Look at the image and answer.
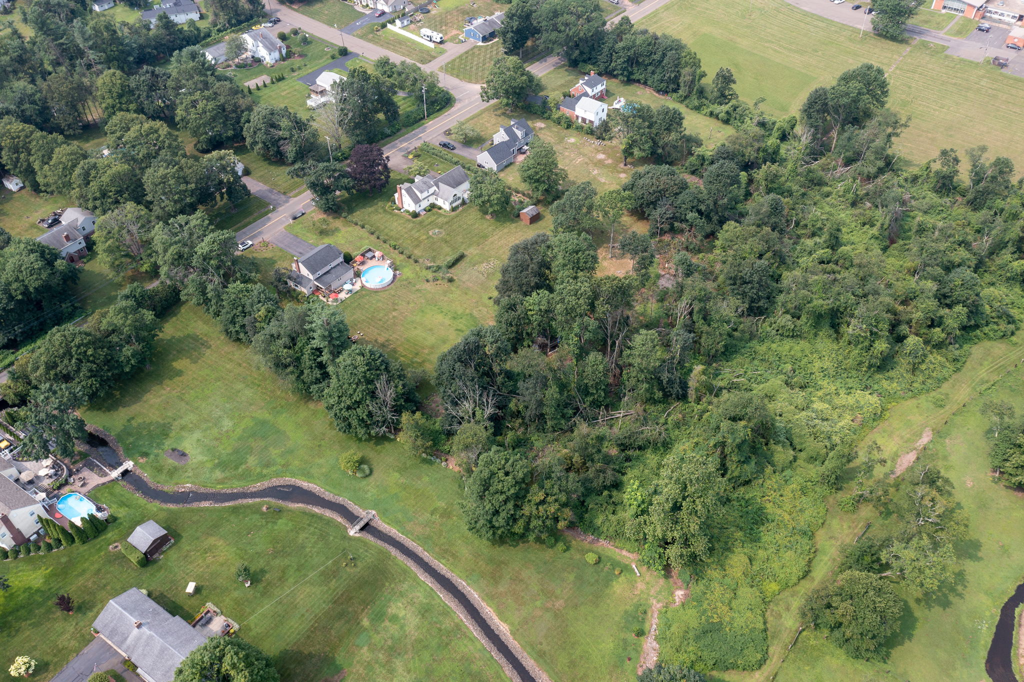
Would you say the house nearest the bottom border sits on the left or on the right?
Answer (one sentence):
It is on the left.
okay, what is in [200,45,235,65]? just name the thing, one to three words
building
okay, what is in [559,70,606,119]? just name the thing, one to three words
house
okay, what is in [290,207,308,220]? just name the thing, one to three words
vehicle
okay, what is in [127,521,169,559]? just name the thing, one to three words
shed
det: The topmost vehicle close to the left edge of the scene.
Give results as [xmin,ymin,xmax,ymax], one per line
[40,212,63,227]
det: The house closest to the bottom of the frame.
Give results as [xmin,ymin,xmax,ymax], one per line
[92,588,235,682]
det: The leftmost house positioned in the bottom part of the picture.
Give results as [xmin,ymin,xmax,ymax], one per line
[0,455,50,548]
